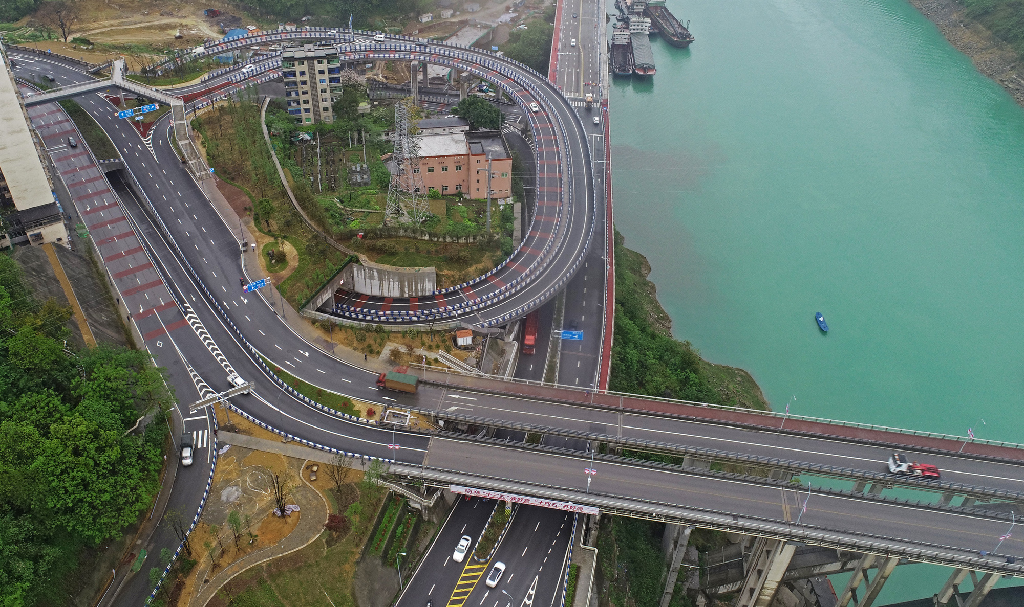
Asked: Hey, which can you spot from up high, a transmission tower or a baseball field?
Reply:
transmission tower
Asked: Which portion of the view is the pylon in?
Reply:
top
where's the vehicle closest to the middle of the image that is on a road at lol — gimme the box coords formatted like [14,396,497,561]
[524,304,538,351]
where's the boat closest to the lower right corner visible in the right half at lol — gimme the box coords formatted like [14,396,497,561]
[815,308,831,332]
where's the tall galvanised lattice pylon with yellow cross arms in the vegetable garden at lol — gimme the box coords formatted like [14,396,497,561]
[384,95,436,220]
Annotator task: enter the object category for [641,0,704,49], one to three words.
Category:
vessel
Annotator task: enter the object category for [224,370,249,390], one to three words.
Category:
vehicle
